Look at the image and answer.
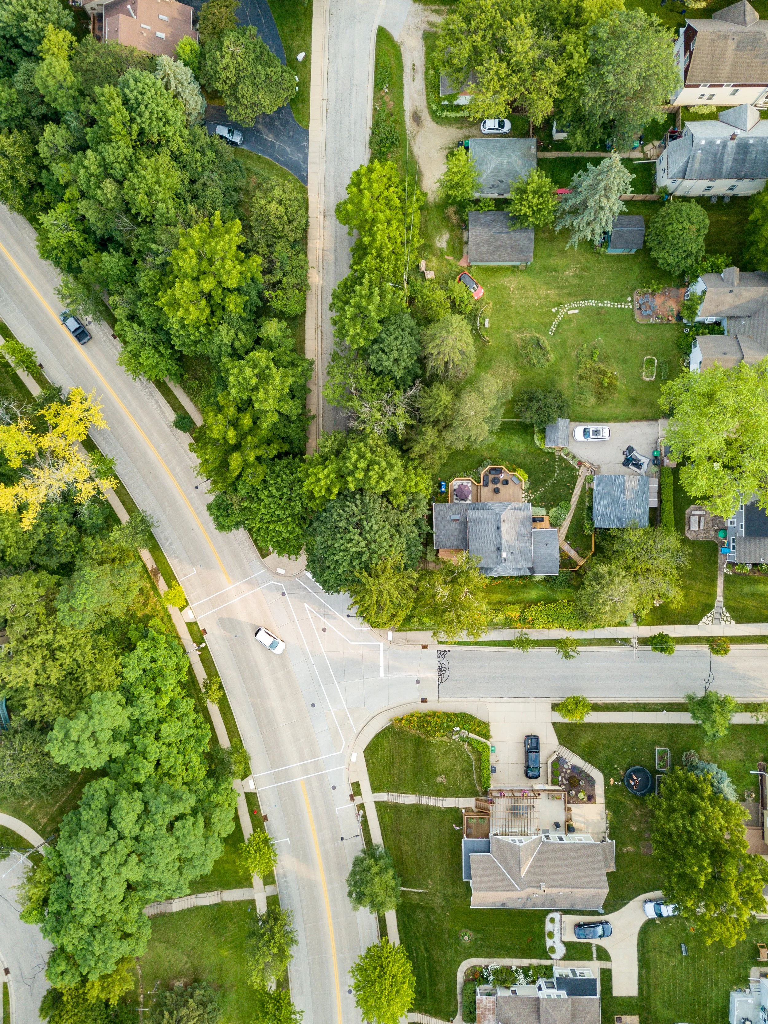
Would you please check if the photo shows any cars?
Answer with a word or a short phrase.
Yes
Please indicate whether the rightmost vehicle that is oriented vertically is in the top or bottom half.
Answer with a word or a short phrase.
bottom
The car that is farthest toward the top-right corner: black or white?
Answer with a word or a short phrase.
white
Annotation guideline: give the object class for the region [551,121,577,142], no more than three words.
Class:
shed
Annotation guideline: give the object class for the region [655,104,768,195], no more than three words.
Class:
house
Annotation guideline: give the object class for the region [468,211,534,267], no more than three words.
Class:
building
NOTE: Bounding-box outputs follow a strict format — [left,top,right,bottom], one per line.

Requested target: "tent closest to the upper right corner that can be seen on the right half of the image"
[622,445,650,475]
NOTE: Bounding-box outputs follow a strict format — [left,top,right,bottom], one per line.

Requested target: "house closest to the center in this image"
[433,503,559,575]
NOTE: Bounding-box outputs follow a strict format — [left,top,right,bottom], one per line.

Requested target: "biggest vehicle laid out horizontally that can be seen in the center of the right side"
[572,424,611,442]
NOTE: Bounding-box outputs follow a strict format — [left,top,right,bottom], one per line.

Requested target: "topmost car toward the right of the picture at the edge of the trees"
[480,116,511,136]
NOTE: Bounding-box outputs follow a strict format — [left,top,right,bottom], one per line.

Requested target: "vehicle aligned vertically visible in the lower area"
[523,734,543,779]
